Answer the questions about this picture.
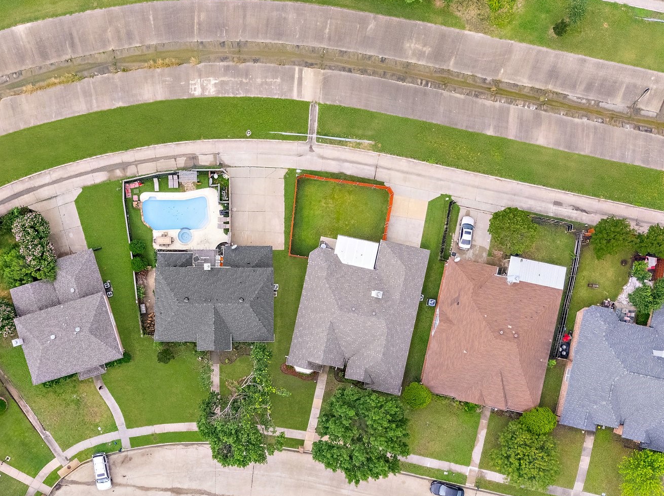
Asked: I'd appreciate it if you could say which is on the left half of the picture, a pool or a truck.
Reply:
pool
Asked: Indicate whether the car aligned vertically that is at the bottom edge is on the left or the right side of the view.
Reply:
left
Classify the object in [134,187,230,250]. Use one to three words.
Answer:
swimming pool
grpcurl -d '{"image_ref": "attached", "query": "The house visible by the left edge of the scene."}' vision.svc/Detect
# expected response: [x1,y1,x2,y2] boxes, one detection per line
[8,247,123,385]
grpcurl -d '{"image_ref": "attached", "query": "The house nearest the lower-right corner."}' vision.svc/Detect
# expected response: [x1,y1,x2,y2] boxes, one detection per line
[554,305,664,450]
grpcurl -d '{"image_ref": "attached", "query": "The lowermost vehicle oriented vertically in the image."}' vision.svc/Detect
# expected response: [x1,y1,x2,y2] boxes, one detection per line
[92,452,113,490]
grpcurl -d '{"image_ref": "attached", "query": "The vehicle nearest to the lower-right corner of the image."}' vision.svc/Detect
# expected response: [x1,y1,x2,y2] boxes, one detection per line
[429,480,465,496]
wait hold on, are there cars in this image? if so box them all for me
[429,480,465,496]
[92,452,113,490]
[457,216,475,250]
